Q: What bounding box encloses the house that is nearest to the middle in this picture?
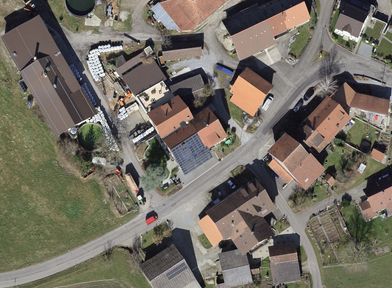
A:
[148,97,228,176]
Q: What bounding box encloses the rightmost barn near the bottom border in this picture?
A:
[268,242,302,286]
